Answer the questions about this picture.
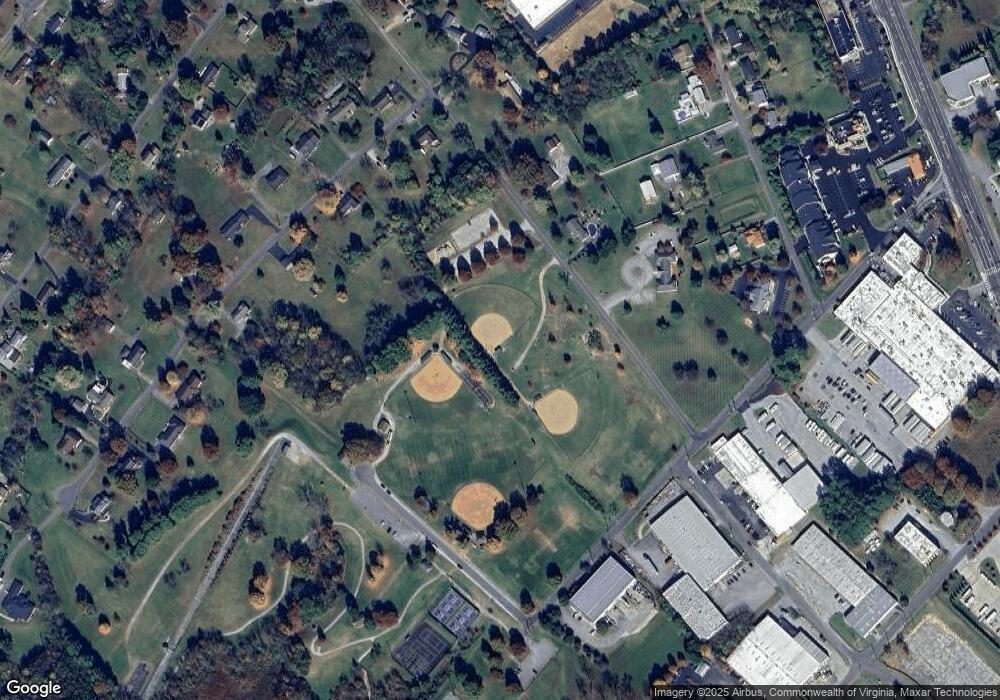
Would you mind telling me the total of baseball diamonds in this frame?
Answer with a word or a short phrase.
4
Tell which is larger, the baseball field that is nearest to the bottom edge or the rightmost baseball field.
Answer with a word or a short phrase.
the rightmost baseball field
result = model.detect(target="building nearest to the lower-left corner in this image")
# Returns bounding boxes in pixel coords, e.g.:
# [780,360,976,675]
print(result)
[5,586,34,621]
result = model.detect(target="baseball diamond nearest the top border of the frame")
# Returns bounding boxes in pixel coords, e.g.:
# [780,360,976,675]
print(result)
[453,285,537,355]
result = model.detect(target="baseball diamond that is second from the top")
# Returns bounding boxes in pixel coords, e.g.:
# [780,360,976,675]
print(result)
[409,350,464,404]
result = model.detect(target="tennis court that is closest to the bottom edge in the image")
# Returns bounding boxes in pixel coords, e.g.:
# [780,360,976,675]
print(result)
[395,622,449,677]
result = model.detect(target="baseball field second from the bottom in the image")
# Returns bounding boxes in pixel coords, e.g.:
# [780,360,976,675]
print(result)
[530,378,606,460]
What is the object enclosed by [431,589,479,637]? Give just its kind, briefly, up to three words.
tennis court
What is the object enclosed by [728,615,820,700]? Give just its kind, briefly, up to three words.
building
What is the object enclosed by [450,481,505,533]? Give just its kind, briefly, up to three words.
baseball field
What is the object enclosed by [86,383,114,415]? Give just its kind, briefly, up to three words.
house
